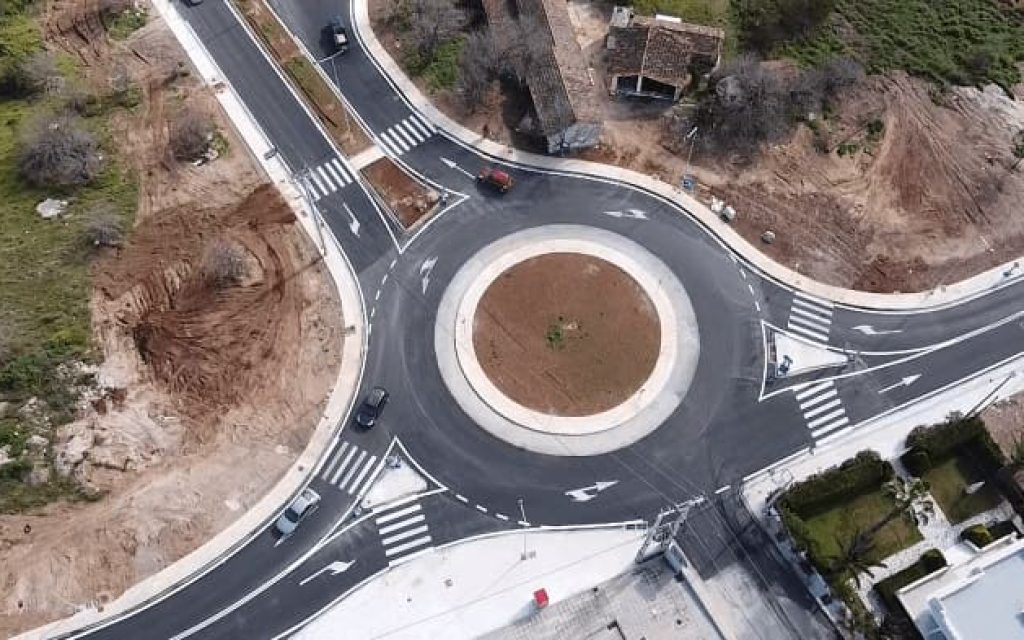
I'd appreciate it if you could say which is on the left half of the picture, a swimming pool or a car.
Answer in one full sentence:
You can see a car on the left half of the picture.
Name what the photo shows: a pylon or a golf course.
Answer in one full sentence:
Looking from above, you can make out a pylon.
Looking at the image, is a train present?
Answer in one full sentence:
No, there's no train here.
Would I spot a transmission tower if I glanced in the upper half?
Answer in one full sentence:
No, there is no transmission tower in the upper half.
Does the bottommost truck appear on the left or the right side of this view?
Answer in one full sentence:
The bottommost truck appears in the left half of the scene.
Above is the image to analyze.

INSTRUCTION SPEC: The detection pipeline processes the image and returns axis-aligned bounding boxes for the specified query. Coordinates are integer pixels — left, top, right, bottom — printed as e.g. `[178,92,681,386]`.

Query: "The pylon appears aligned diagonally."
[628,493,706,570]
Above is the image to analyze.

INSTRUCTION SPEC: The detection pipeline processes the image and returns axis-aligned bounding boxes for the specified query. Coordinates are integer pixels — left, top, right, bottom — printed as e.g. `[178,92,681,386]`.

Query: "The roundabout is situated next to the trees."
[370,178,764,524]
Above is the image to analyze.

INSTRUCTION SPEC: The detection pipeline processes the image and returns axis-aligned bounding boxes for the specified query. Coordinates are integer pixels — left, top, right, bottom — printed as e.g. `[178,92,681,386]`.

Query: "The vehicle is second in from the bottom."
[354,385,386,432]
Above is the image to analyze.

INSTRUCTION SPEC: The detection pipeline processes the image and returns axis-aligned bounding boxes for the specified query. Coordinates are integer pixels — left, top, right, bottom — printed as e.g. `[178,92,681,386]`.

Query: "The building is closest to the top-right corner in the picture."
[607,12,723,104]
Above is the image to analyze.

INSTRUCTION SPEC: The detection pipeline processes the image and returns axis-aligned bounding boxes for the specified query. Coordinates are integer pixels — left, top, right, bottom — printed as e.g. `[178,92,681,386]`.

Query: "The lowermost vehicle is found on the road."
[269,484,320,541]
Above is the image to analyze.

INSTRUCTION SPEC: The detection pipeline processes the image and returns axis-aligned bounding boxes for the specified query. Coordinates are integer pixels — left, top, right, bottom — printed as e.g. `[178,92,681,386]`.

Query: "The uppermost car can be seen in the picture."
[327,25,349,52]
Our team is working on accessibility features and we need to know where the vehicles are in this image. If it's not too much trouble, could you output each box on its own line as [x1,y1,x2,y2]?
[327,25,349,52]
[269,484,320,541]
[474,168,515,194]
[354,385,386,432]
